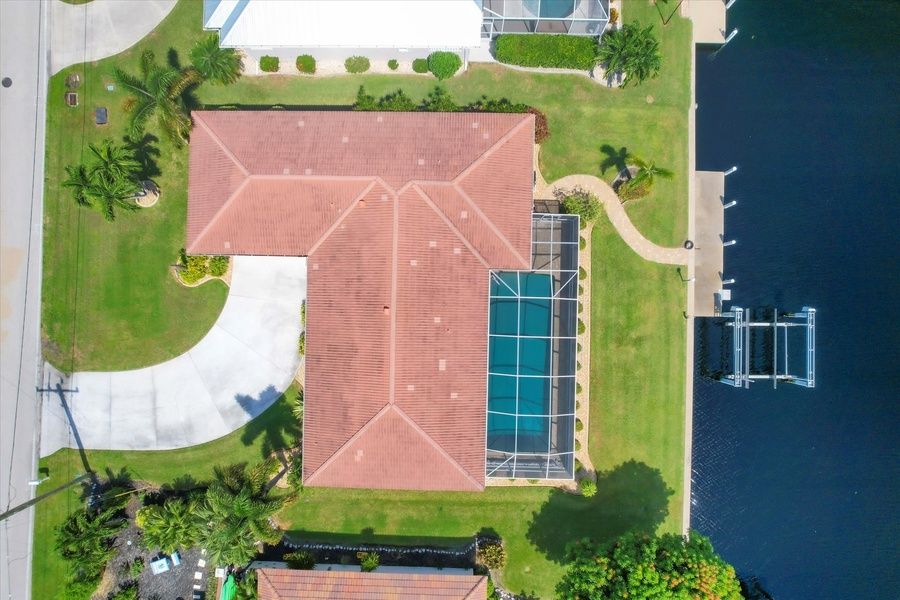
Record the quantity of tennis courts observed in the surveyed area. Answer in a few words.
0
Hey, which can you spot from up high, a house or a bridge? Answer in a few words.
house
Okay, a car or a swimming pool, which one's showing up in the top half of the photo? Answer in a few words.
swimming pool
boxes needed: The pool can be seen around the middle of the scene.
[486,270,555,455]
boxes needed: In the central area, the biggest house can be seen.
[185,108,536,493]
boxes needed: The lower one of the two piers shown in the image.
[694,170,725,316]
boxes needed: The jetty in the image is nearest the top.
[696,0,727,43]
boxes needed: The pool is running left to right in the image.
[533,0,578,21]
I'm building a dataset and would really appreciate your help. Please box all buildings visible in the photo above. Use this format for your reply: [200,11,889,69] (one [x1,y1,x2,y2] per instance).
[202,0,484,60]
[256,559,489,600]
[185,108,536,493]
